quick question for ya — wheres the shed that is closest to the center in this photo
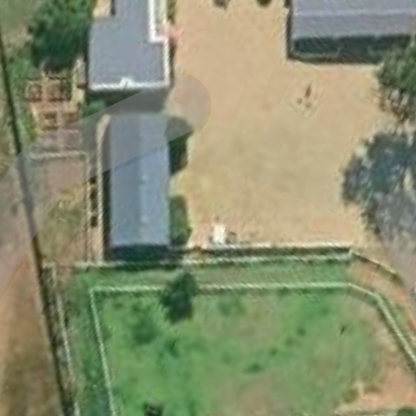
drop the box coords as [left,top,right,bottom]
[110,113,171,254]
